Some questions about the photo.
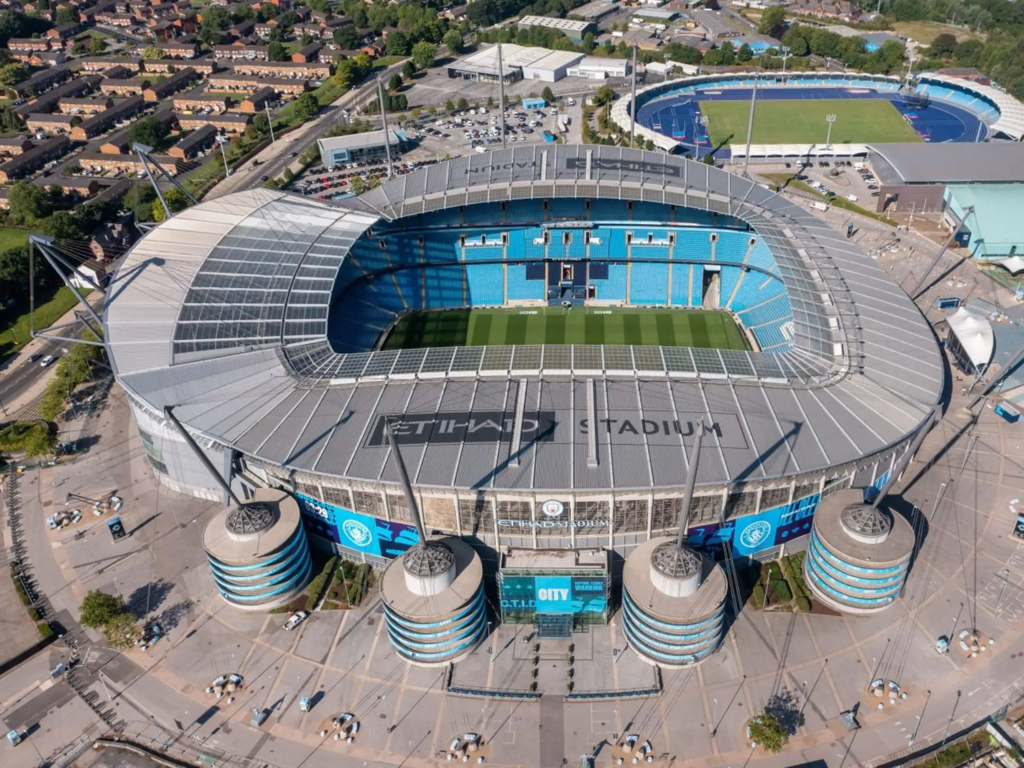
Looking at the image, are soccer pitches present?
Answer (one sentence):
Yes, the frame does contain a soccer pitch.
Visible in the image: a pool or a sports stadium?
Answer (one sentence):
I can see a sports stadium in this picture.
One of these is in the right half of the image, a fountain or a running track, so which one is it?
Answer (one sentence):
Looking in the right half of the image, you will find a running track.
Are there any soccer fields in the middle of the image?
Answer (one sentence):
Yes, the scene does show a soccer field in the middle of the image.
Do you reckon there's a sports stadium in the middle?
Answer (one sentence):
Yes, a sports stadium shows up in the middle.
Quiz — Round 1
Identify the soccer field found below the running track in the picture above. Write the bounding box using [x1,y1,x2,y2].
[369,306,763,380]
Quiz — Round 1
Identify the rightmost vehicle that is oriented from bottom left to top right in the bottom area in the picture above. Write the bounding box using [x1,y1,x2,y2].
[282,611,307,628]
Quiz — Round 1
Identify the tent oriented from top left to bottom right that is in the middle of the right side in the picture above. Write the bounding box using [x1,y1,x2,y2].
[936,307,1016,391]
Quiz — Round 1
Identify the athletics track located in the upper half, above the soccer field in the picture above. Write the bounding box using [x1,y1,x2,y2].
[632,93,991,157]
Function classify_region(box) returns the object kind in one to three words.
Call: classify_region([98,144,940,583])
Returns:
stadium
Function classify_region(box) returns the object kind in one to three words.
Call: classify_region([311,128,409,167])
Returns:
building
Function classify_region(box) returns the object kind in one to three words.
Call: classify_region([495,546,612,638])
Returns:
building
